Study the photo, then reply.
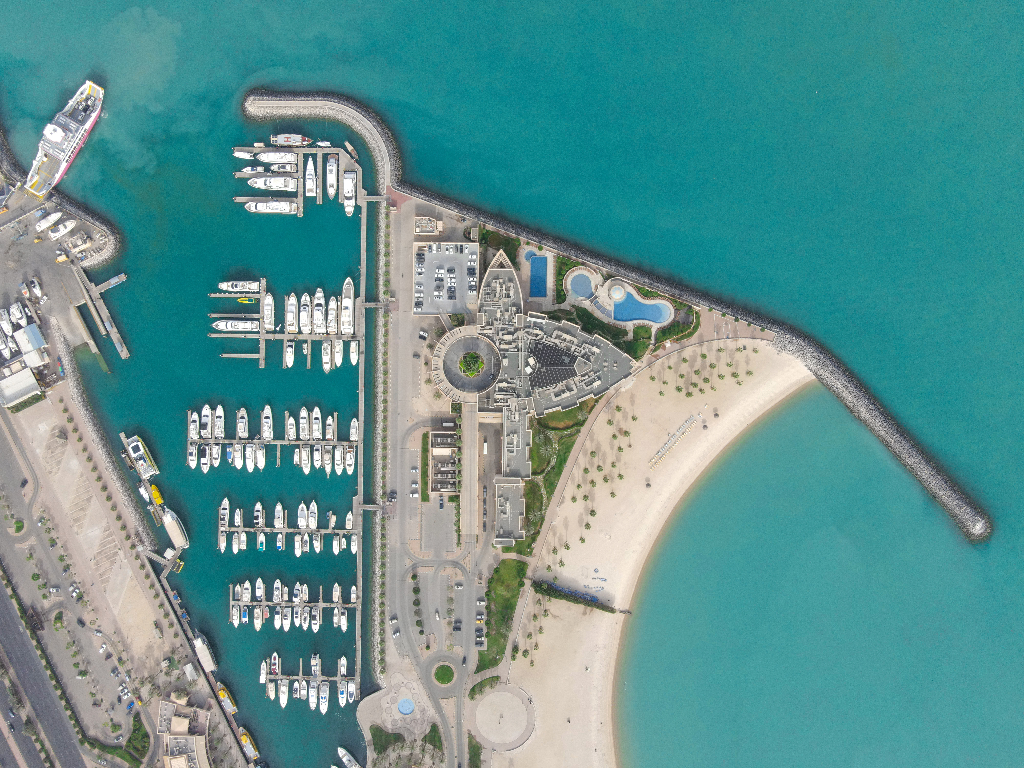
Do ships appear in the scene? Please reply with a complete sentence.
Yes, the image includes a ship.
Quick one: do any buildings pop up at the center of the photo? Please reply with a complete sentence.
Yes, at the center of the photo there is a building.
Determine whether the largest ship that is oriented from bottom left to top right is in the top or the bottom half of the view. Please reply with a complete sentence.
The largest ship that is oriented from bottom left to top right sits in the top half of the picture.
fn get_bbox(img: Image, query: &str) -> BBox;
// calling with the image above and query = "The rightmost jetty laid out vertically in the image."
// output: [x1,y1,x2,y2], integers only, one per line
[353,207,367,700]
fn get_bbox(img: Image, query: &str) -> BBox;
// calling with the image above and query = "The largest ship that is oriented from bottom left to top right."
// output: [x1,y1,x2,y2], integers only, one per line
[21,78,105,200]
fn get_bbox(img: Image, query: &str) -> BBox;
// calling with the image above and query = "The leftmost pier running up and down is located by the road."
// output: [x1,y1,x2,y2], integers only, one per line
[91,273,130,359]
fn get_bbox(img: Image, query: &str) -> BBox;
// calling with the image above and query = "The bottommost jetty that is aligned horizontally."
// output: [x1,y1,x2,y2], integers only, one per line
[267,657,355,698]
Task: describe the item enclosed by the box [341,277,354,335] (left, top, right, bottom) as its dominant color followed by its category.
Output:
white boat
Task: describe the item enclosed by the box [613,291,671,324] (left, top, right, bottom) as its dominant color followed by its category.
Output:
blue swimming pool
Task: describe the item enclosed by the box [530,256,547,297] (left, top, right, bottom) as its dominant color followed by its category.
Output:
blue swimming pool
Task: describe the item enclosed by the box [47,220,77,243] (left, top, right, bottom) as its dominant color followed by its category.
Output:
white boat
